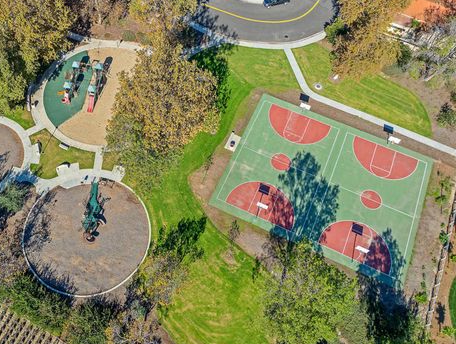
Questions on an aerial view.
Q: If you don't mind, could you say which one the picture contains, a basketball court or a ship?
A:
basketball court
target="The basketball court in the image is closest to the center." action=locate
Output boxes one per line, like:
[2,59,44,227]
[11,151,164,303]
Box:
[210,94,344,246]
